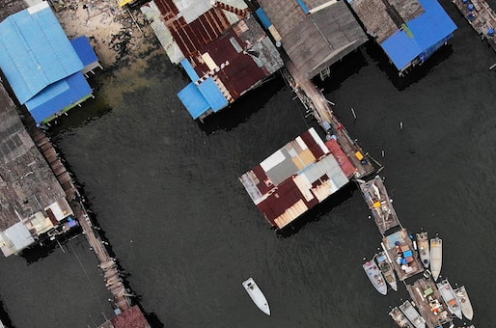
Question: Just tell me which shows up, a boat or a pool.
boat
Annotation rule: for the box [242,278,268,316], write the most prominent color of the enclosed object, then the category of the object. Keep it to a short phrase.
white boat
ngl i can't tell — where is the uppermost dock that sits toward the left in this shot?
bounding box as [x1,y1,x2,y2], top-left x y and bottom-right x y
[31,129,142,312]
